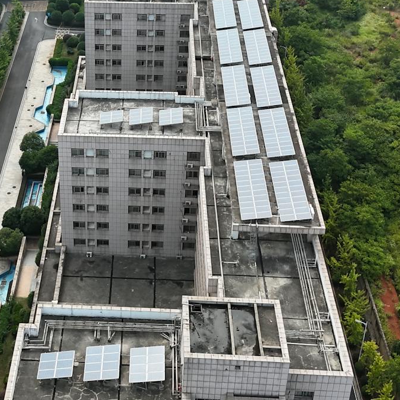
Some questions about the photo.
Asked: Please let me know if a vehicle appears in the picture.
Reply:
No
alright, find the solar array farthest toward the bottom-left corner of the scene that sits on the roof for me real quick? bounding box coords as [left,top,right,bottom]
[38,352,74,388]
